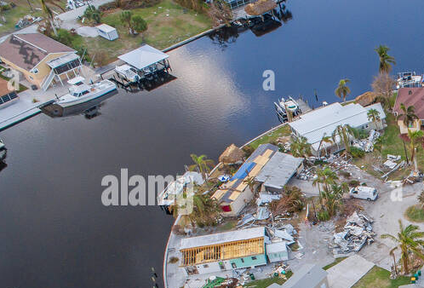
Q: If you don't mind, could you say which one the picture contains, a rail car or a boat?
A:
boat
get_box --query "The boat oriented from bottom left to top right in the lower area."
[157,169,196,205]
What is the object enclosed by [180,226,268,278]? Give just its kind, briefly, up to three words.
house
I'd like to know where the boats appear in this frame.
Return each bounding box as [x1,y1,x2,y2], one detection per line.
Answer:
[115,64,143,83]
[157,169,196,205]
[280,95,303,119]
[52,76,118,105]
